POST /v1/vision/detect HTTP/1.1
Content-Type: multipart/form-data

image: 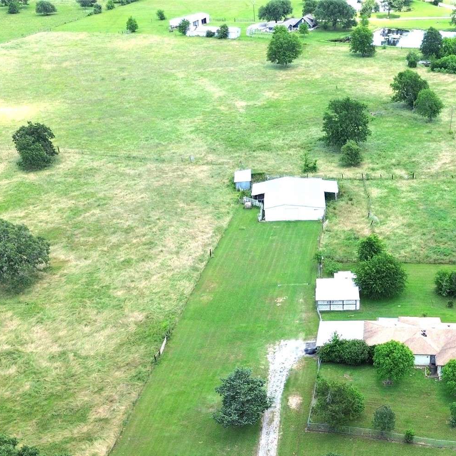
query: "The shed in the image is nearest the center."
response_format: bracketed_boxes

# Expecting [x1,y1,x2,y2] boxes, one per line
[234,169,253,191]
